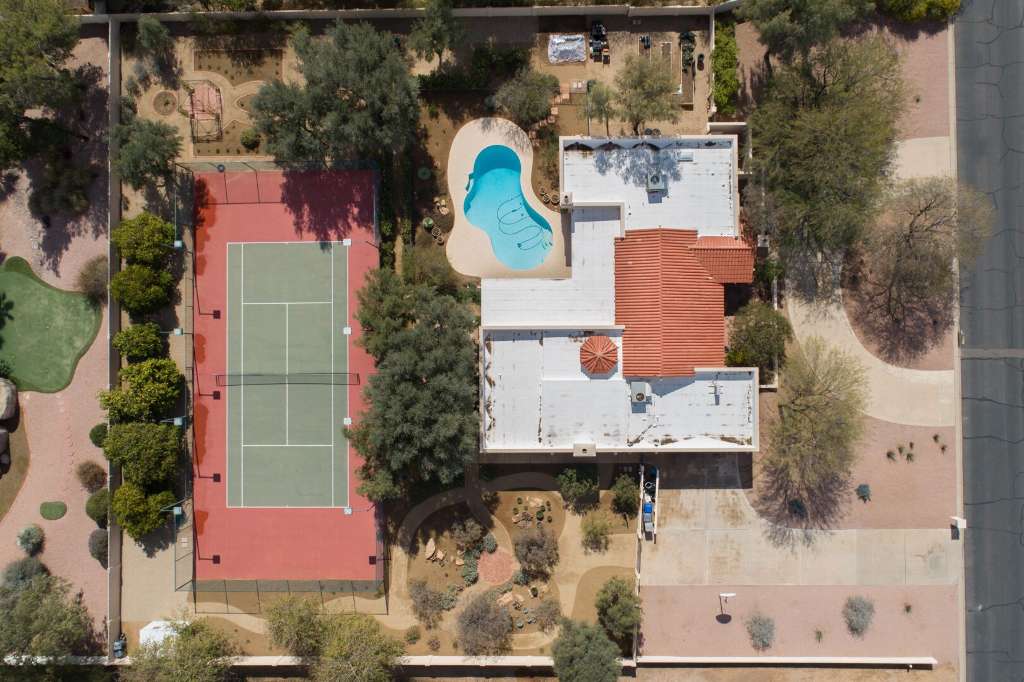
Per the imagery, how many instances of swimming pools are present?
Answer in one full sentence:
Just 1 swimming pool appears in this view.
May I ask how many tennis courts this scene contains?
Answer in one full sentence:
I count 1 tennis court.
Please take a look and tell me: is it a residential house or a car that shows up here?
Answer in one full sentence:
I can see a residential house in this picture.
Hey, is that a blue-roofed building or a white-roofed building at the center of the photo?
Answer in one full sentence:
What appears at the center of the photo is a white-roofed building.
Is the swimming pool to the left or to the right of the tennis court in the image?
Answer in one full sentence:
The swimming pool can be seen on the right of the tennis court.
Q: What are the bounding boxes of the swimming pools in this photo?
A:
[446,117,572,280]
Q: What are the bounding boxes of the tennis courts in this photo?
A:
[193,169,383,580]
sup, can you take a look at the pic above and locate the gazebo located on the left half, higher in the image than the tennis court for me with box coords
[178,76,221,119]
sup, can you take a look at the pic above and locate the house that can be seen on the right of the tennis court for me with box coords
[481,135,759,456]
